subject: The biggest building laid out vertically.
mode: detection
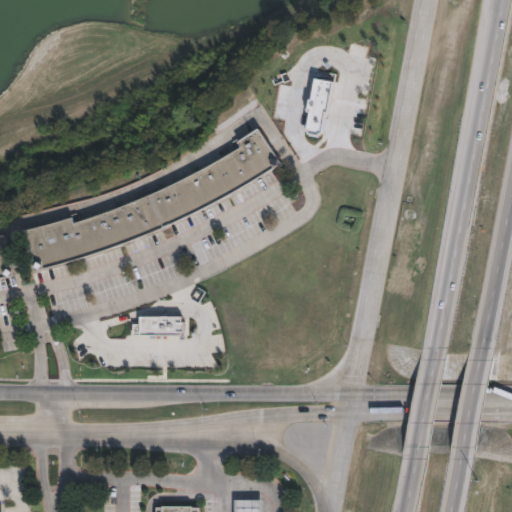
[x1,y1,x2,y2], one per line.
[305,78,332,140]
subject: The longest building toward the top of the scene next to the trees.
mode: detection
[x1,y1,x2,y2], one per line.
[26,128,282,268]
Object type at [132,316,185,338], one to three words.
building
